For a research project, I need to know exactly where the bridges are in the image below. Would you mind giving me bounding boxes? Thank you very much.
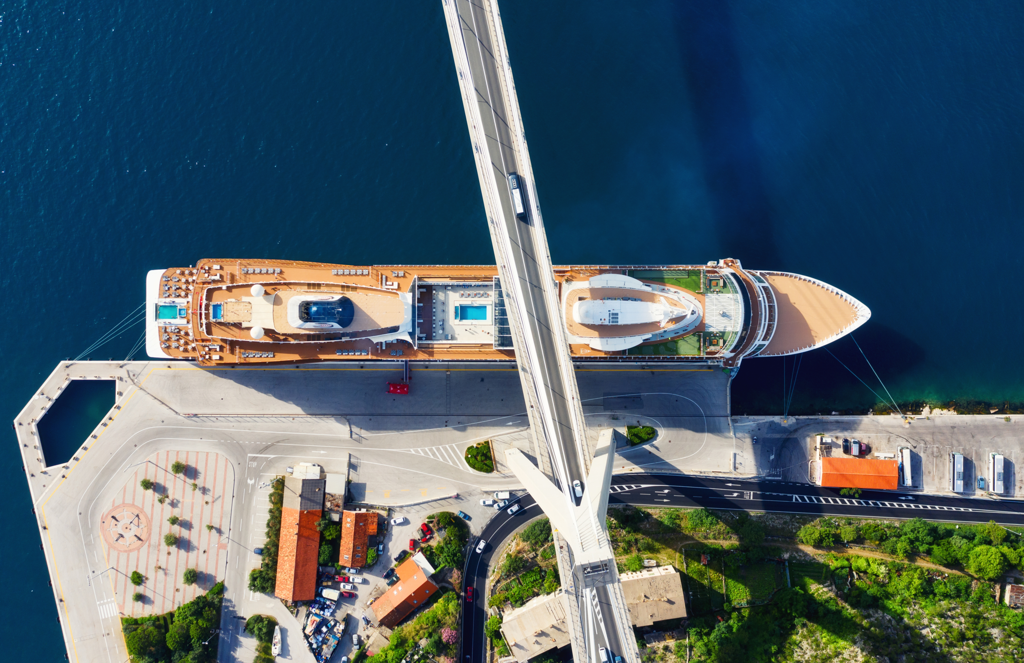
[442,0,641,663]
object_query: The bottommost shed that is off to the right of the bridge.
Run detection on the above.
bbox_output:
[644,626,685,646]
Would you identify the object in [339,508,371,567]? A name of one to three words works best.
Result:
house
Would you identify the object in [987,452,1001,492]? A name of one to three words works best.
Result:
vehicle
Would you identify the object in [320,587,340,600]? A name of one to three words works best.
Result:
vehicle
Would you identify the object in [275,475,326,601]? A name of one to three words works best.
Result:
building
